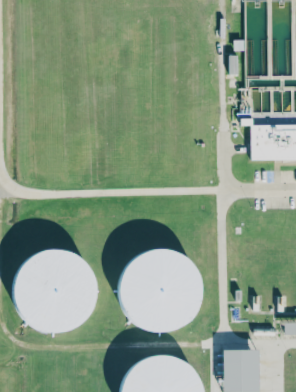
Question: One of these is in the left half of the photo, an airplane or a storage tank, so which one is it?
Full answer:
There is a storage tank in the left half of the photo.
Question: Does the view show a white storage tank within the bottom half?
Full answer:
Yes, looking within the bottom half, one can make out a white storage tank.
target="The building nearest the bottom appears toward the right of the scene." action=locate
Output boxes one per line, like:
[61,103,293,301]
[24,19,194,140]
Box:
[223,350,260,392]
